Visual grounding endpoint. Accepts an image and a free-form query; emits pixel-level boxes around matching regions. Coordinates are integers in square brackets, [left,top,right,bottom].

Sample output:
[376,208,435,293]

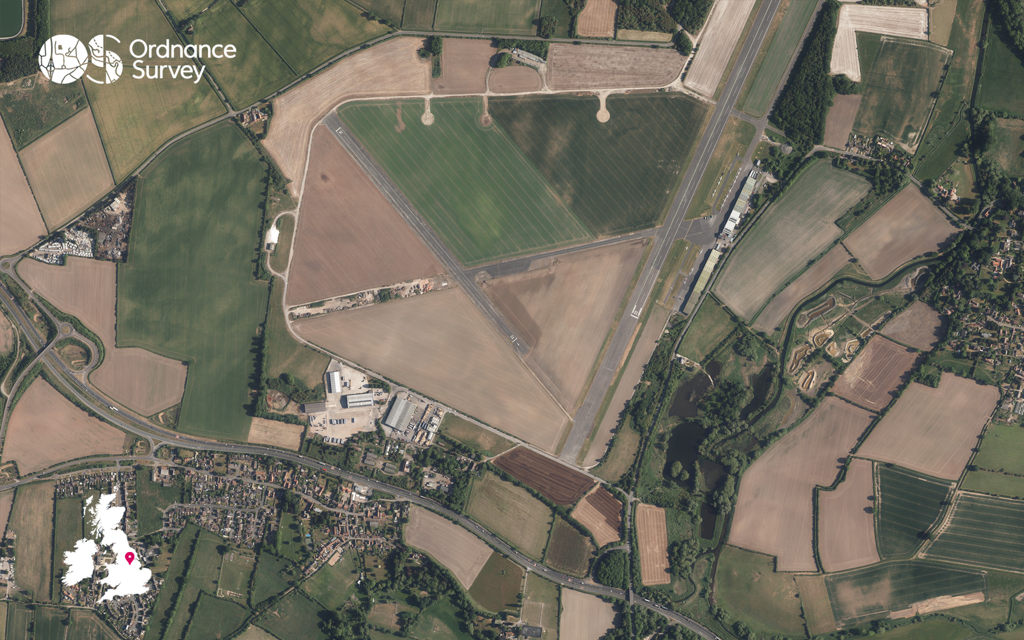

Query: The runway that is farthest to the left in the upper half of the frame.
[322,112,532,358]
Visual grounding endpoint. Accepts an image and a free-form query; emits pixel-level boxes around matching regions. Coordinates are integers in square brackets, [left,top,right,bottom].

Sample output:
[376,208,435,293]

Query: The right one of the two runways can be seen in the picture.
[568,0,782,466]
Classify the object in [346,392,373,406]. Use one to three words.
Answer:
building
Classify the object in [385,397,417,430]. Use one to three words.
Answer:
building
